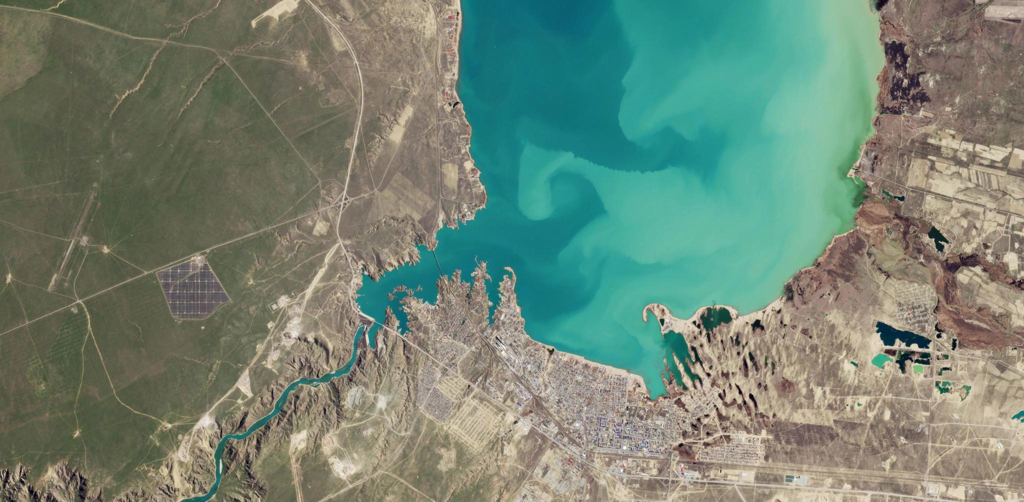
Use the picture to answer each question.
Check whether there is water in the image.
Yes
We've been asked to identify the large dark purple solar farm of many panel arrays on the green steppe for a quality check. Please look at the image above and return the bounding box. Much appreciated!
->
[157,261,230,318]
